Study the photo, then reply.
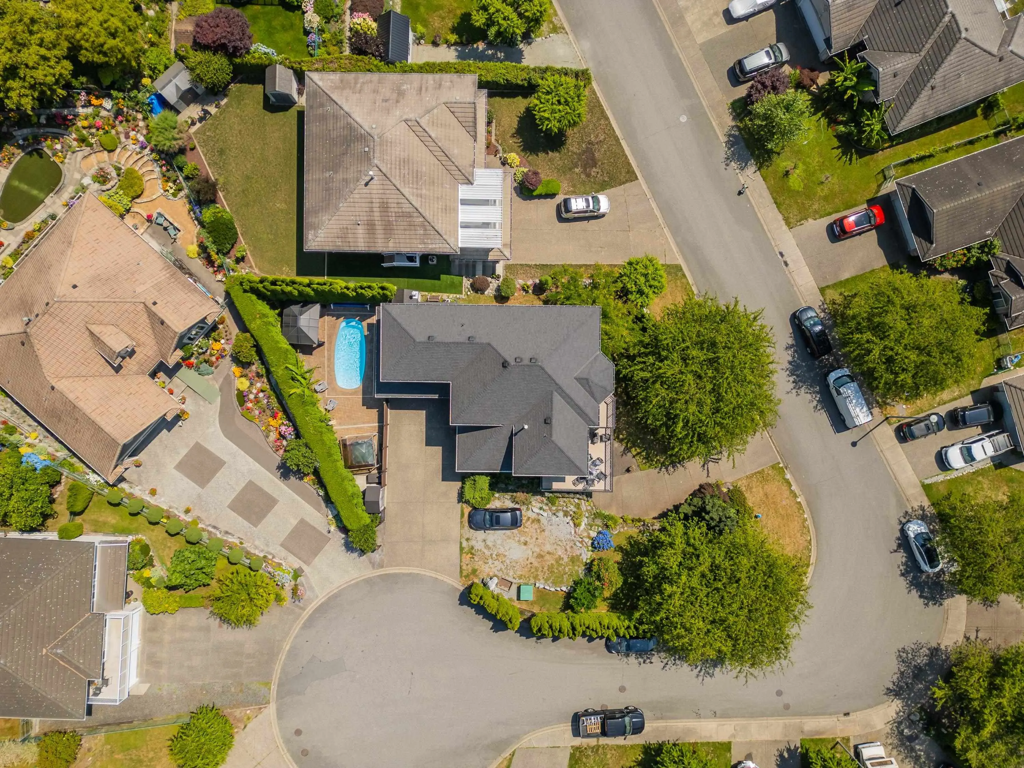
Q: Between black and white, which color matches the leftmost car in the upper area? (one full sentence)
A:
In this view, the leftmost car in the upper area is white.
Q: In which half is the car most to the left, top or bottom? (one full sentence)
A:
The bottom half of the photo is where the car most to the left is.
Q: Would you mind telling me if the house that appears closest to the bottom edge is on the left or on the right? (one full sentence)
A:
You can find the house that appears closest to the bottom edge on the left side of the picture.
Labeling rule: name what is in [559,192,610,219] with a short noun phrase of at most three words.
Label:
car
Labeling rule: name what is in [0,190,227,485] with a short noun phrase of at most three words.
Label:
house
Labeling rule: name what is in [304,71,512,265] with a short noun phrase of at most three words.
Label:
house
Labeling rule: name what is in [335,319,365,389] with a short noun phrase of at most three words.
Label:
swimming pool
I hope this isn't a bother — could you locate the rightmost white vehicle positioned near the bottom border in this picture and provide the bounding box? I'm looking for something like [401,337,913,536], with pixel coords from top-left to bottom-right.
[860,737,892,768]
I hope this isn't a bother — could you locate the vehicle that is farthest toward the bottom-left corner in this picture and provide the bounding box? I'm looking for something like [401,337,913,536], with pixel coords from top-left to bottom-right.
[469,507,521,532]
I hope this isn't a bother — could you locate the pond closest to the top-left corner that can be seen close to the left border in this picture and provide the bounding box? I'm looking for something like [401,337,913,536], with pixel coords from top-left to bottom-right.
[0,143,65,226]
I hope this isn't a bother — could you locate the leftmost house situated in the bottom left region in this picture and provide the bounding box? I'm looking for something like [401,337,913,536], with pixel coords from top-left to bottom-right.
[0,530,150,721]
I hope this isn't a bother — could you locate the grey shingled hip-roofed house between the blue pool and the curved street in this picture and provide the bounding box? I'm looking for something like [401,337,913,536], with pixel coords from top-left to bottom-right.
[375,303,615,492]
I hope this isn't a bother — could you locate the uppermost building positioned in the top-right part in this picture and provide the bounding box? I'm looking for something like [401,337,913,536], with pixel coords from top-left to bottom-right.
[806,0,1024,139]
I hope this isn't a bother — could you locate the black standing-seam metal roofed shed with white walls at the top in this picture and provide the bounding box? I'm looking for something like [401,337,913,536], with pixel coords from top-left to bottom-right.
[378,10,412,64]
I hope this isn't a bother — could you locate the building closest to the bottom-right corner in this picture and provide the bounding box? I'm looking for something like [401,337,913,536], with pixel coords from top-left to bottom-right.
[986,370,1024,463]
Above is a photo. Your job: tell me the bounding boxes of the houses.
[0,530,150,721]
[0,190,227,485]
[986,370,1024,463]
[882,135,1024,330]
[806,0,1024,139]
[375,303,615,492]
[304,71,512,265]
